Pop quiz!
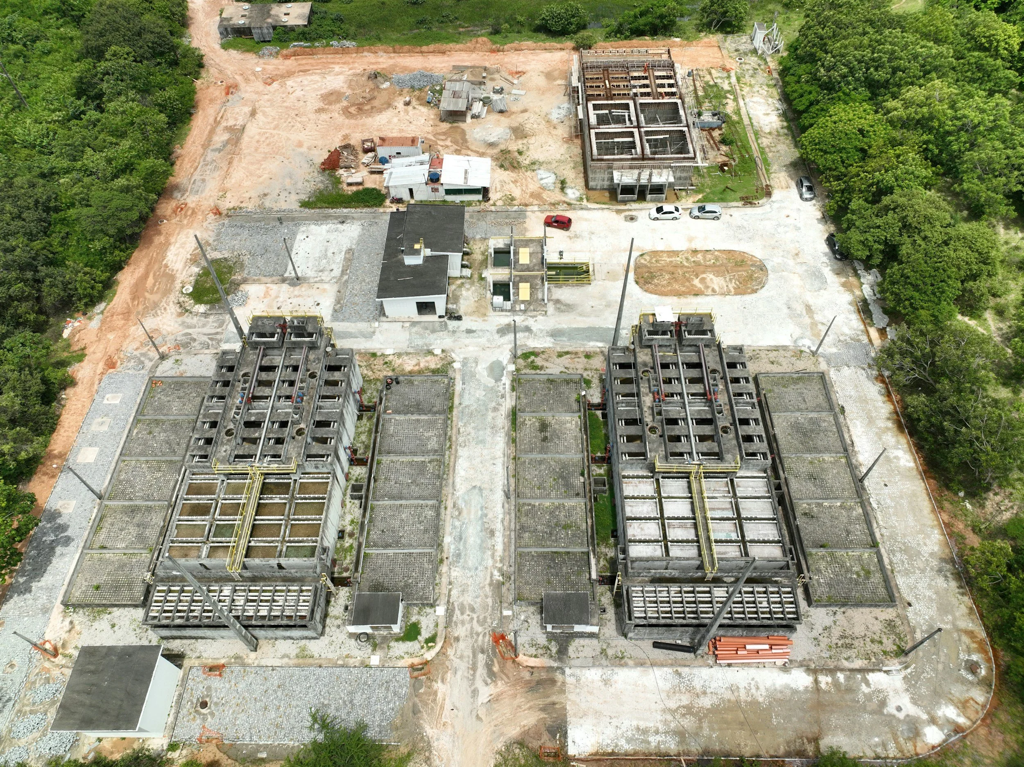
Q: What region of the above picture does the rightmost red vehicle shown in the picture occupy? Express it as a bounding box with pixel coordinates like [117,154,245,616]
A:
[543,212,573,230]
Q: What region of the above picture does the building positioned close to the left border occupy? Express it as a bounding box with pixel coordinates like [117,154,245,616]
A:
[51,645,181,737]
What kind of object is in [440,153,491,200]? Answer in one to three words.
building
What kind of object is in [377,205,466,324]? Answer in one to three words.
building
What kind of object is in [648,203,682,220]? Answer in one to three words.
car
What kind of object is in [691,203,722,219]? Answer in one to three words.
car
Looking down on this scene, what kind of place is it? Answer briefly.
industrial area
